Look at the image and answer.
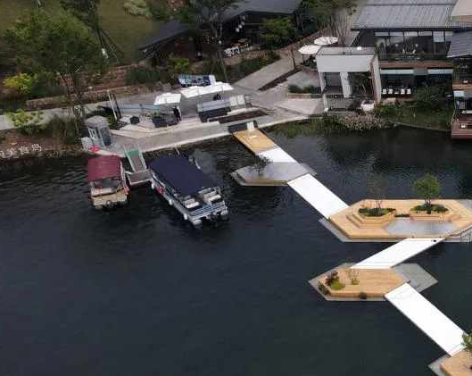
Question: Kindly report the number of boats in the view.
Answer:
2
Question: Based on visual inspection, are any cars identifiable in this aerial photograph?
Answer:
No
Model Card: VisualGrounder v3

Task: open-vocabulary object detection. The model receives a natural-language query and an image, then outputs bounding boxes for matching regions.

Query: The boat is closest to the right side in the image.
[144,148,229,232]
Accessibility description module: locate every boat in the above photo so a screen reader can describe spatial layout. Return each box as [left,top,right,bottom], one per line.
[79,151,128,211]
[144,148,229,232]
